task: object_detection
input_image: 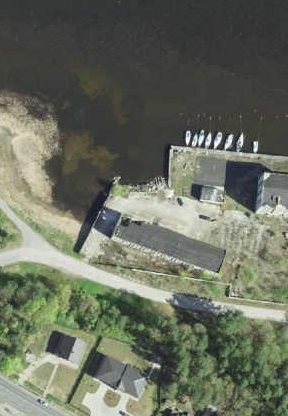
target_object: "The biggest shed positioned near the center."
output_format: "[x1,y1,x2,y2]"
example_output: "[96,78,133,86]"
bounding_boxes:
[111,220,226,276]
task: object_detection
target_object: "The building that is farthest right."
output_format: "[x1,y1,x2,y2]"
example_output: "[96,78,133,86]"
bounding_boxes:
[252,171,288,219]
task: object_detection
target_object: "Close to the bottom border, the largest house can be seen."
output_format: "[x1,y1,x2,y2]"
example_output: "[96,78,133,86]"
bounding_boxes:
[86,351,146,398]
